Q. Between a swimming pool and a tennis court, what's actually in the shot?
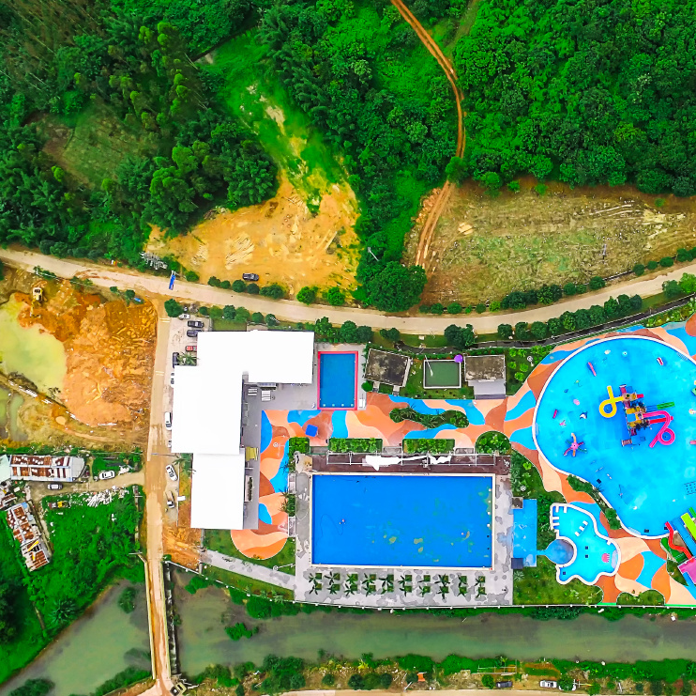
swimming pool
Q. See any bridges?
Yes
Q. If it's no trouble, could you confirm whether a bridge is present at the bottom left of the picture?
Yes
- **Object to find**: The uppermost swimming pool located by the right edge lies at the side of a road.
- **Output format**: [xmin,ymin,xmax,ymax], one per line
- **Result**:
[532,334,696,539]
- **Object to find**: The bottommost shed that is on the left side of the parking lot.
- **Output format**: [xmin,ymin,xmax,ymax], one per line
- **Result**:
[8,501,55,570]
